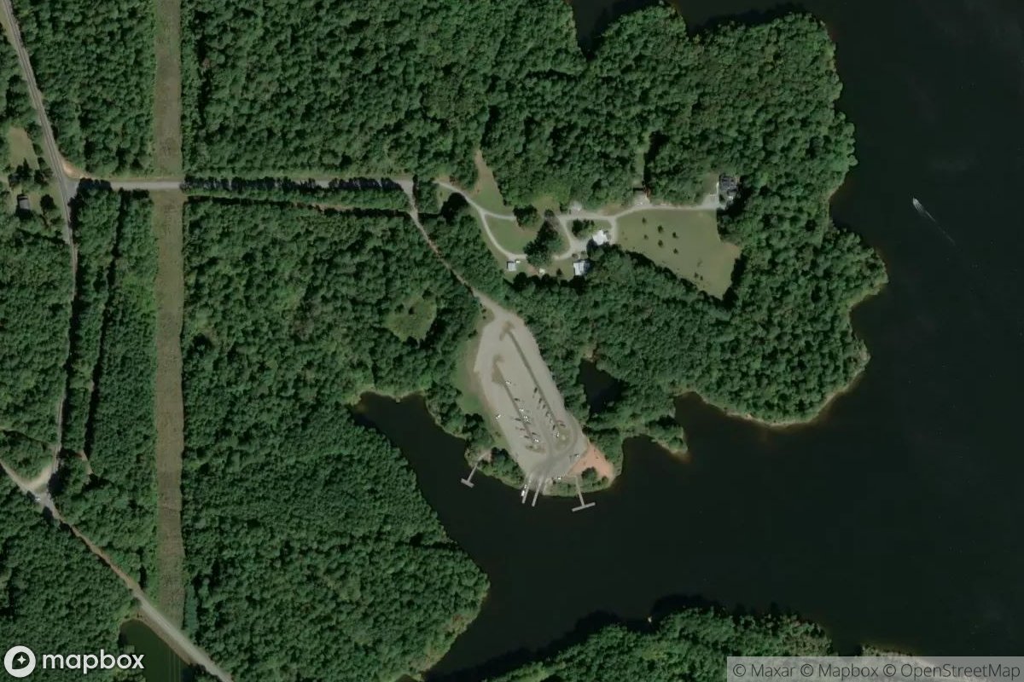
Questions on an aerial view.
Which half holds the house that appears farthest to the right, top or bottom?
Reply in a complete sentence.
The top half of the photo is where the house that appears farthest to the right is.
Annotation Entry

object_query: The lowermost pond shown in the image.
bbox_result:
[118,619,193,682]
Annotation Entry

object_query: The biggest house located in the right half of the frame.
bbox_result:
[718,173,739,200]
